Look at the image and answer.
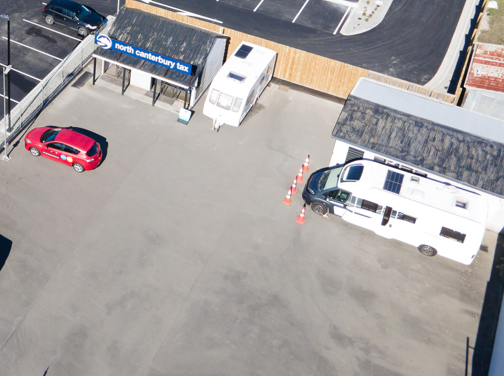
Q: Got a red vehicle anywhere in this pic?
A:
Yes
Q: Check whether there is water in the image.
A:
No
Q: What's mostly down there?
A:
paved ground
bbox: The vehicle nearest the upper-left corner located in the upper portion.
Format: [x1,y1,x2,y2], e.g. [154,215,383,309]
[39,0,105,31]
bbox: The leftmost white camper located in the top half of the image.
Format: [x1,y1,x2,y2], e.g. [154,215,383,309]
[206,46,276,139]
